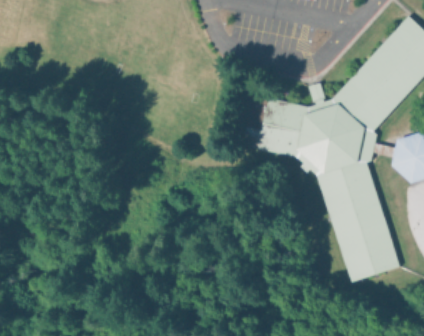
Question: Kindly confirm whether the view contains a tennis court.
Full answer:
No, the frame has no tennis court in it.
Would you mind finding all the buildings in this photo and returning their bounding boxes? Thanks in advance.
[259,18,424,282]
[392,134,424,184]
